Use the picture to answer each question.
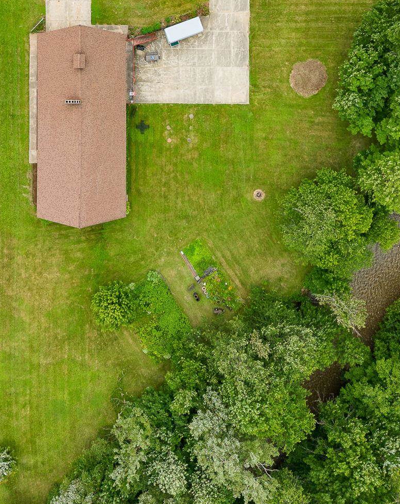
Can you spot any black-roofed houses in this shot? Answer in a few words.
No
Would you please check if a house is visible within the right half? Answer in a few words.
No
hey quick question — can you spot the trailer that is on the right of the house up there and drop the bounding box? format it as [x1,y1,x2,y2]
[164,16,206,44]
